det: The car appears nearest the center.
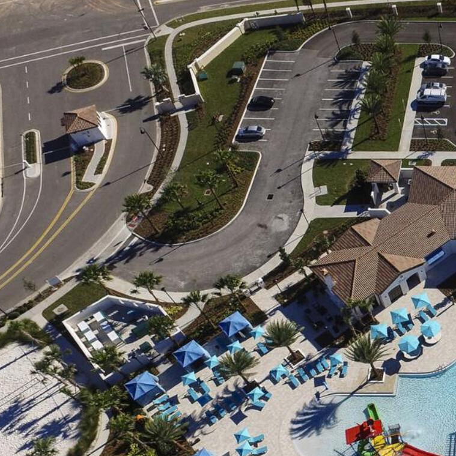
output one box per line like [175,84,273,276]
[236,128,265,140]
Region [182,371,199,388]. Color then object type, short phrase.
blue umbrella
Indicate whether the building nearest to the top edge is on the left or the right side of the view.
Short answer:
left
